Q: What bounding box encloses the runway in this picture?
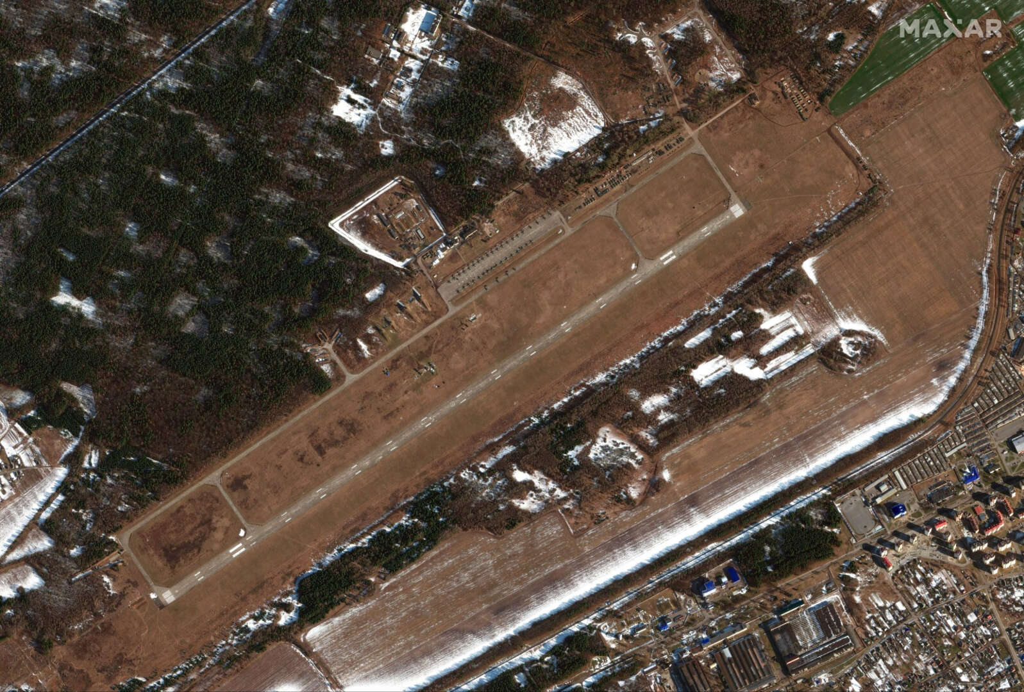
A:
[158,201,747,608]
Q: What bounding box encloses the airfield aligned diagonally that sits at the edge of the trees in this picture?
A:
[0,90,872,680]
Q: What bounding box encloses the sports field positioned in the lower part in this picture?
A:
[839,493,878,536]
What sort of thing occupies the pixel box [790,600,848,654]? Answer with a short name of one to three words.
building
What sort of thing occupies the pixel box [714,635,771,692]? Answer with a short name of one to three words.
building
